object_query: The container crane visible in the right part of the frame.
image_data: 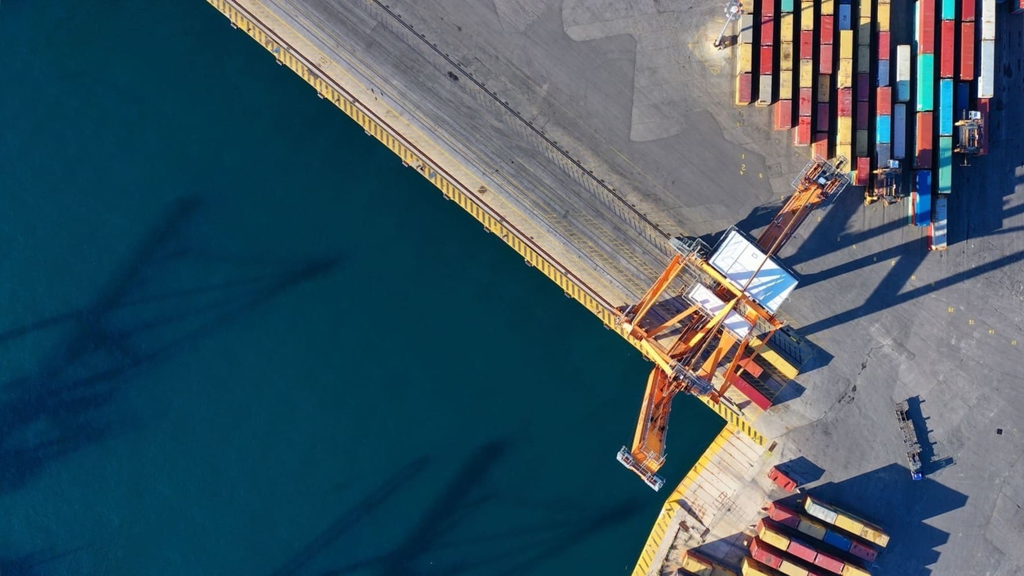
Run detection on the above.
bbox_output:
[607,148,852,487]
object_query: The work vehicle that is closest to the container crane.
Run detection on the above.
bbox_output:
[863,157,899,207]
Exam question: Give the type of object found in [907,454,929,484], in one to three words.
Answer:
truck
